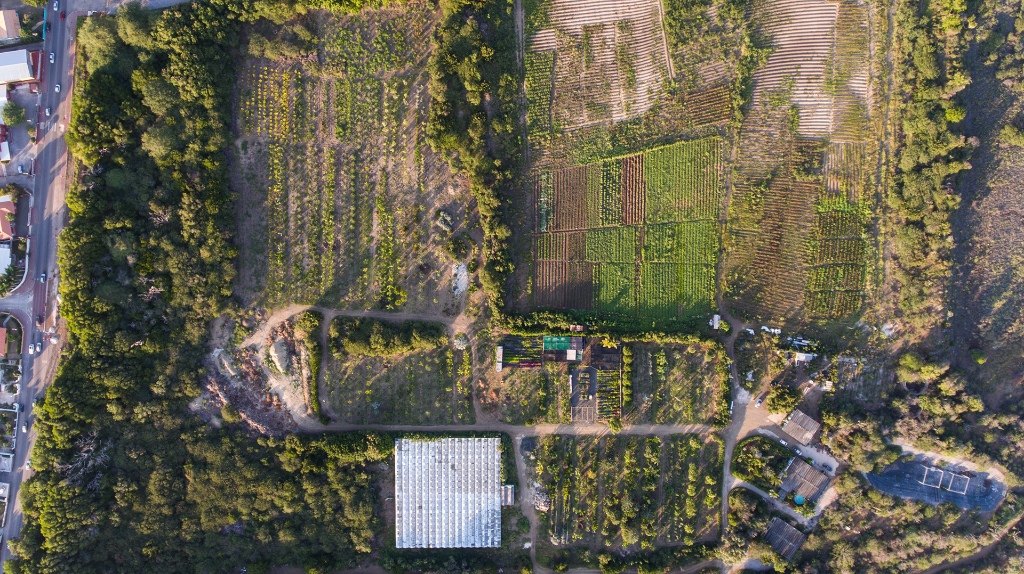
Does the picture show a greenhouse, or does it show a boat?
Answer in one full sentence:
It is a greenhouse that can be seen here.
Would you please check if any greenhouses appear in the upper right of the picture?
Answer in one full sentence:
No, there's no greenhouse to be seen in the upper right of the picture.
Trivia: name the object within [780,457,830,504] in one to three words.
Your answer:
house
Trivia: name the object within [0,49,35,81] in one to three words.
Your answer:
building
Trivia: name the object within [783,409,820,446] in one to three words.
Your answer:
barn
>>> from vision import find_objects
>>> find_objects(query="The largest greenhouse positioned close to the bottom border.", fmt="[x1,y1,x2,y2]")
[395,436,501,548]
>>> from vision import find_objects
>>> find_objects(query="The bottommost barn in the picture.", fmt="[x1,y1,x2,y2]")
[763,517,806,560]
